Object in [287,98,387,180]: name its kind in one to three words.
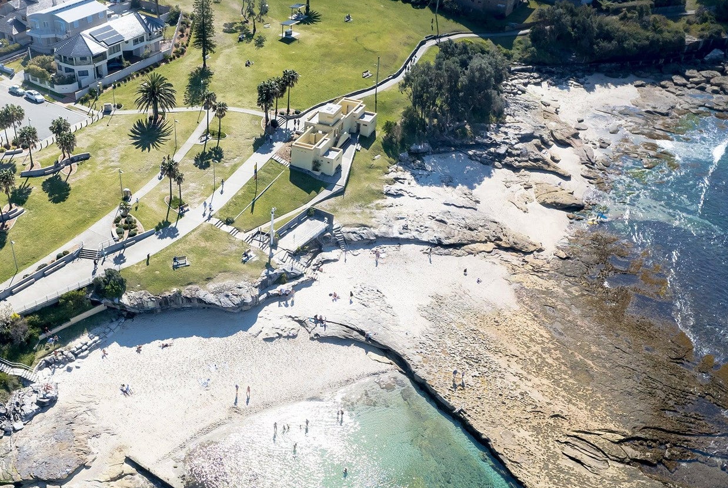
building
